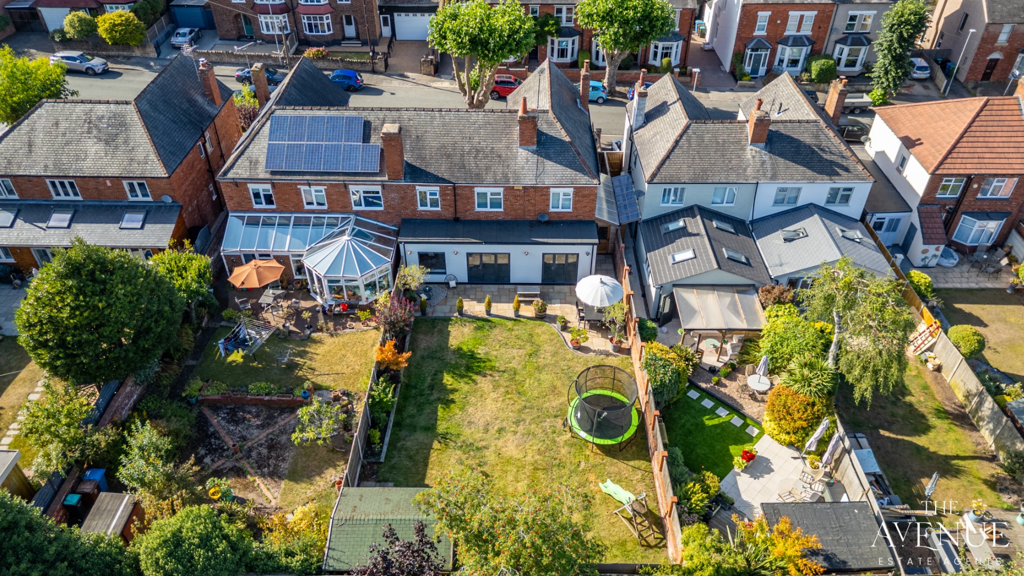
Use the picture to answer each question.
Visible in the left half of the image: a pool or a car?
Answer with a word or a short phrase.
car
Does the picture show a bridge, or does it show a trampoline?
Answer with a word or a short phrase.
trampoline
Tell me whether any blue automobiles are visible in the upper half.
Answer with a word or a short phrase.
Yes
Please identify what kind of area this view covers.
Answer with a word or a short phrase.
residential area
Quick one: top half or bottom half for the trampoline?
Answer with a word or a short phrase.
bottom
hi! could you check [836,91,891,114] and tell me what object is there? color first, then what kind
gray trailer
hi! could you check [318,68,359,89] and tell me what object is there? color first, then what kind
blue car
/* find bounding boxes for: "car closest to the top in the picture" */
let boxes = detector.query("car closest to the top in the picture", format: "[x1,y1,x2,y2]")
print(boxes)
[170,29,211,46]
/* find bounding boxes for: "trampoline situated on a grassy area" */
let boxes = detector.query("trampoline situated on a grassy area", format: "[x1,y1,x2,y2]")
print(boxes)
[567,363,644,451]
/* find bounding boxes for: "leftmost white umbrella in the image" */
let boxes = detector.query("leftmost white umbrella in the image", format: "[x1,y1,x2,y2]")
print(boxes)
[574,278,622,312]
